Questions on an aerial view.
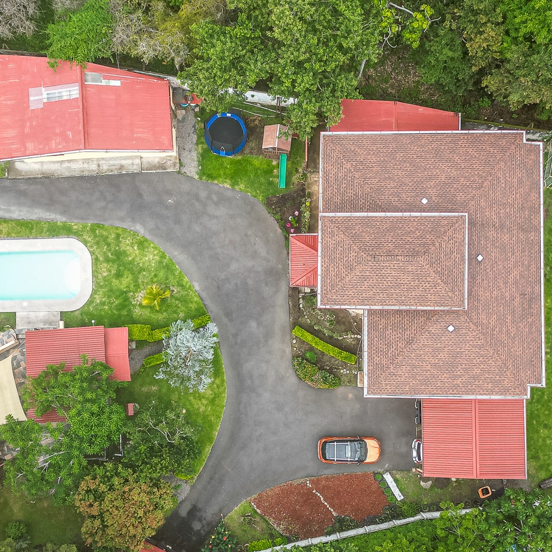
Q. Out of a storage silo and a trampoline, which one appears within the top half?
trampoline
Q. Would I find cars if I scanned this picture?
Yes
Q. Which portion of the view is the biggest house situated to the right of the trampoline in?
right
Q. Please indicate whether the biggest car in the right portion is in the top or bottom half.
bottom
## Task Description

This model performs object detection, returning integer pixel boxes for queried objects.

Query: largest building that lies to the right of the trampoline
[316,129,548,400]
